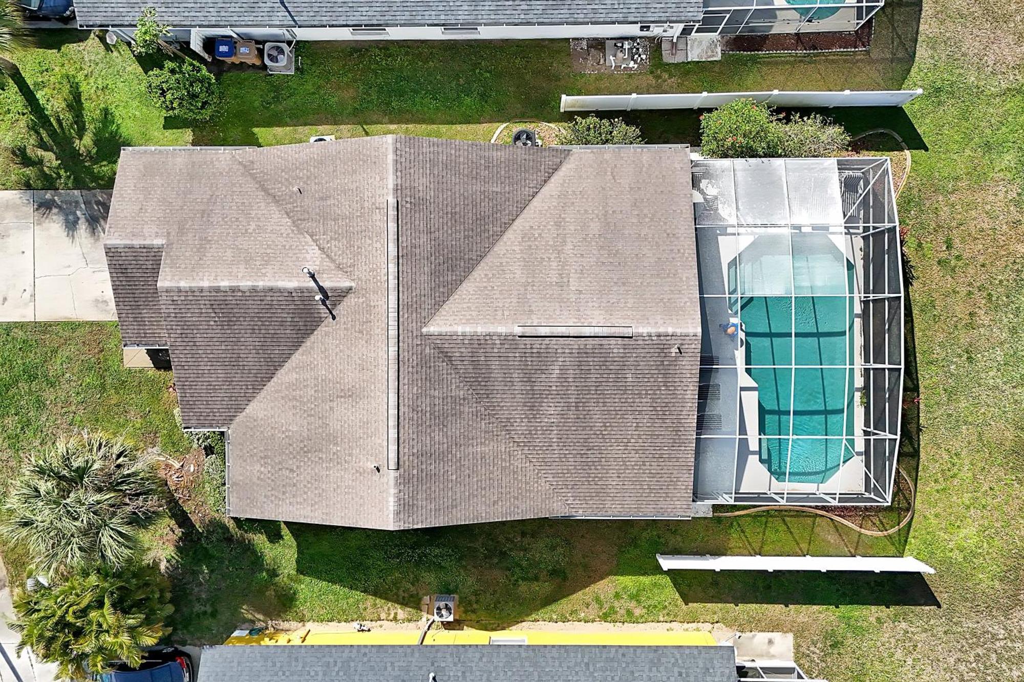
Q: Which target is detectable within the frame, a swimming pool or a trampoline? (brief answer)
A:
swimming pool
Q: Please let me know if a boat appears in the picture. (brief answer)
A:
No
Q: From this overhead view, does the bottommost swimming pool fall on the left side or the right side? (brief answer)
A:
right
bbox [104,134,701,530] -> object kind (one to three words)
house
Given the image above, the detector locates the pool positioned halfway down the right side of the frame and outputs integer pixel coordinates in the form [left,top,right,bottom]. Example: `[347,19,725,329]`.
[726,232,858,487]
